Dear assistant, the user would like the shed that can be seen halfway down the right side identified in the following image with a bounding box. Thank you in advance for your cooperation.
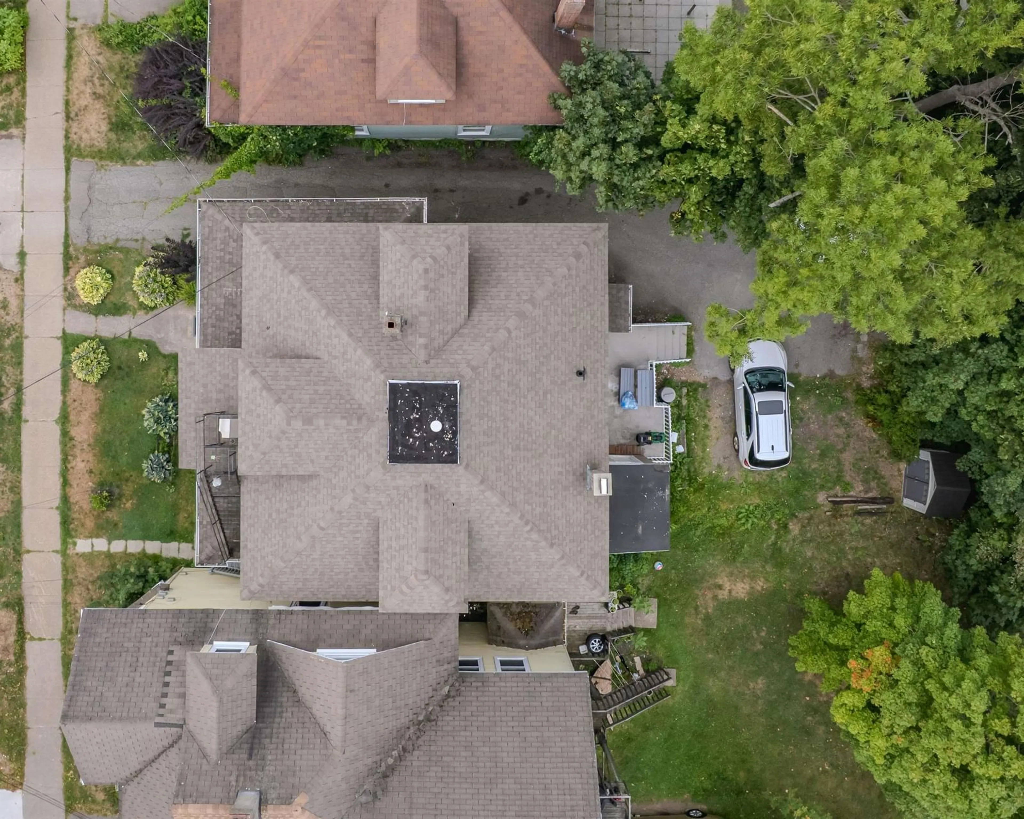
[899,450,973,519]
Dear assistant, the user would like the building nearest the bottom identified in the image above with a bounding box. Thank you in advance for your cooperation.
[61,573,604,819]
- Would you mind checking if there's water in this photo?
No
